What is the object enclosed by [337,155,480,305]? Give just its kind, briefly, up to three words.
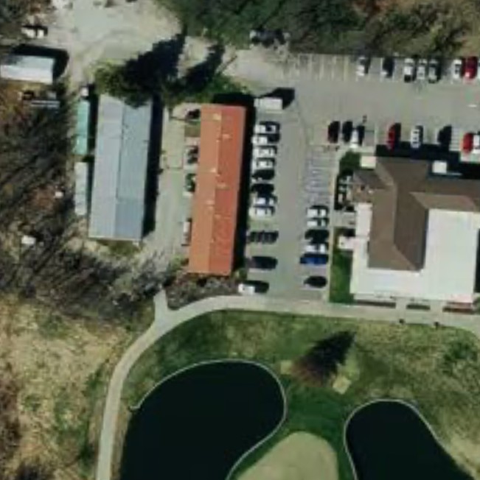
building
